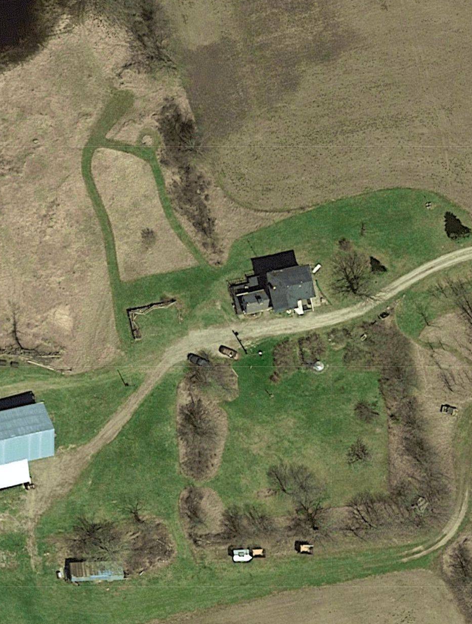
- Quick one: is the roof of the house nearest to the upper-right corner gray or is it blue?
gray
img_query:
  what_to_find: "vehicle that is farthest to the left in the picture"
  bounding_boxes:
[187,353,208,367]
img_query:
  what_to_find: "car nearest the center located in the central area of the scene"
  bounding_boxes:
[218,345,238,358]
